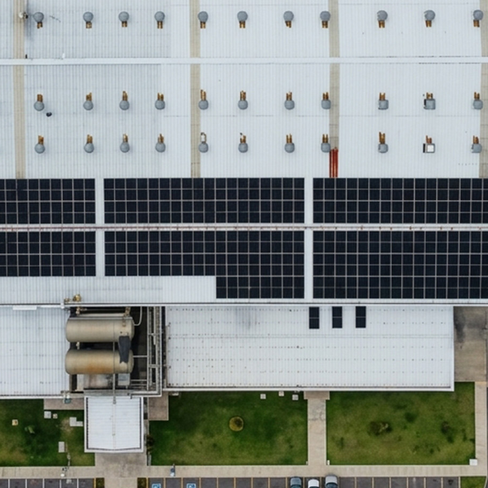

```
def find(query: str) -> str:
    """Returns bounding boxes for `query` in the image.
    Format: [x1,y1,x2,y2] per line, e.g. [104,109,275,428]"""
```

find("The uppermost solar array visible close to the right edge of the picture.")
[313,178,488,223]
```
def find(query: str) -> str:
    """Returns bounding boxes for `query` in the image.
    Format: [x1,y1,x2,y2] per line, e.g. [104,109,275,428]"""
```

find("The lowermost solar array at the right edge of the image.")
[313,231,488,299]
